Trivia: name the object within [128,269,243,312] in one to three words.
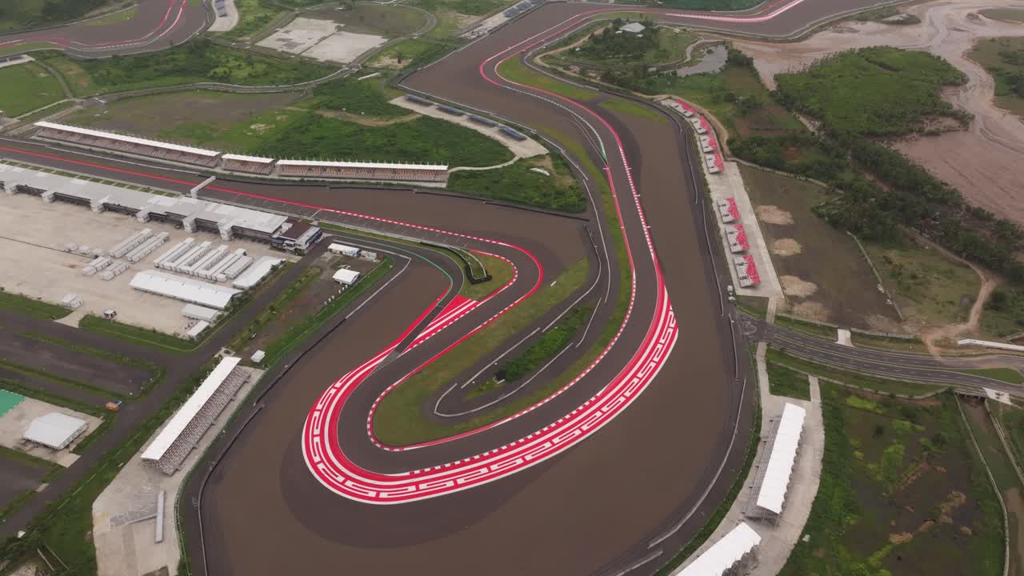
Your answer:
tent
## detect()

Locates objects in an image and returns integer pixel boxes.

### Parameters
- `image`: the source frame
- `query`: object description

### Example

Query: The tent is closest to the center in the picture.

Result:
[333,269,361,287]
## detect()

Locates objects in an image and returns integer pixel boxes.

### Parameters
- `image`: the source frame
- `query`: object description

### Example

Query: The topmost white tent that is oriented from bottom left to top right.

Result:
[233,254,286,293]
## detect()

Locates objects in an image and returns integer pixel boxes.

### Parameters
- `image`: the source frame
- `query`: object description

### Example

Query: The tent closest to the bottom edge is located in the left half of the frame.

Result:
[24,413,87,454]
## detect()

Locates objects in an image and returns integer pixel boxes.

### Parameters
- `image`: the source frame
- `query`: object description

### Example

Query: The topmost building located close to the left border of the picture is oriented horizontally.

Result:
[0,165,291,242]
